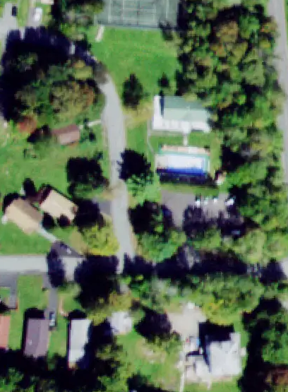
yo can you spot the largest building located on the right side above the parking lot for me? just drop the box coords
[153,95,211,130]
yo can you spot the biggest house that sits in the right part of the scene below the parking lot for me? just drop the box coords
[185,329,247,384]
